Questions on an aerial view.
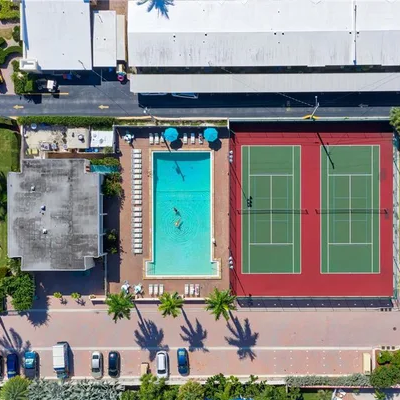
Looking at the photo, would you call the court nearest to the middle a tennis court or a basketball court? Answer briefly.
tennis court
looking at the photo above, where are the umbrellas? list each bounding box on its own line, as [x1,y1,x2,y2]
[164,127,179,142]
[204,127,219,142]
